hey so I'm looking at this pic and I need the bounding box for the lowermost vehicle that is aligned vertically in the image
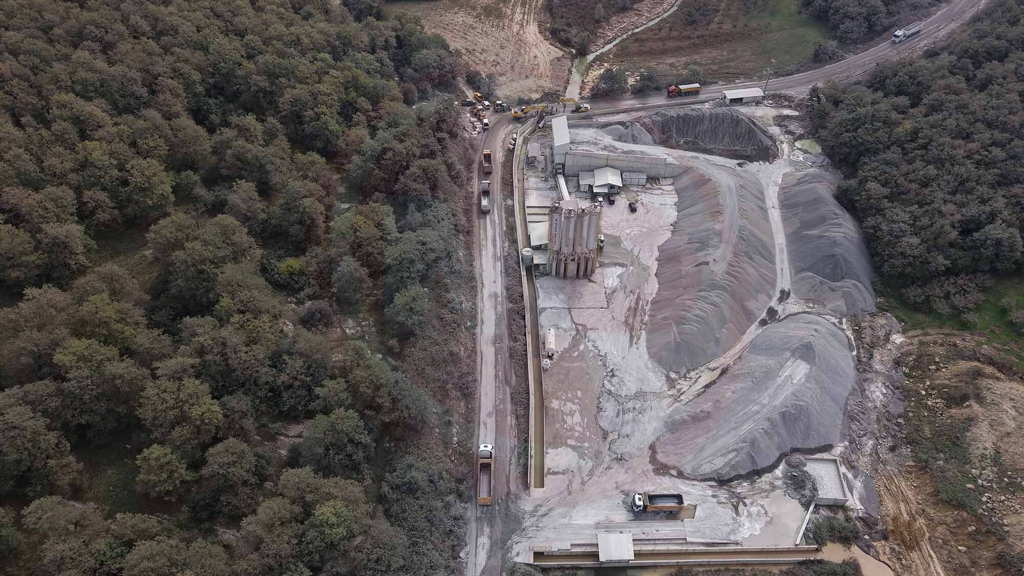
[477,445,494,506]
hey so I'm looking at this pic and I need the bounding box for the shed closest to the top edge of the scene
[722,88,764,106]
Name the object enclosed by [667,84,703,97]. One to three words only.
vehicle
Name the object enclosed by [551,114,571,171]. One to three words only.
shed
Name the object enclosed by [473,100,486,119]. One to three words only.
vehicle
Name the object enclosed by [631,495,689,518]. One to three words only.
truck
